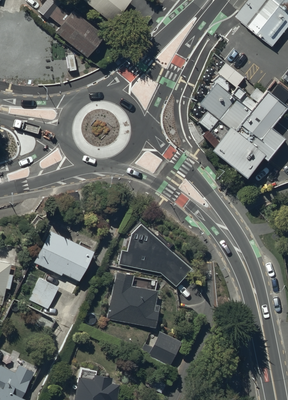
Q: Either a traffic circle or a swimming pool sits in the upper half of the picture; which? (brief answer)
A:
traffic circle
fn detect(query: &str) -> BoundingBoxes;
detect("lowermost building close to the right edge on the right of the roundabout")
[200,63,288,178]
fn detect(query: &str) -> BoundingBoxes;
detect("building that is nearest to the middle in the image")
[118,224,192,288]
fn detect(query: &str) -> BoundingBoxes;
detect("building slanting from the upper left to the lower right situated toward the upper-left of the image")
[39,0,102,56]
